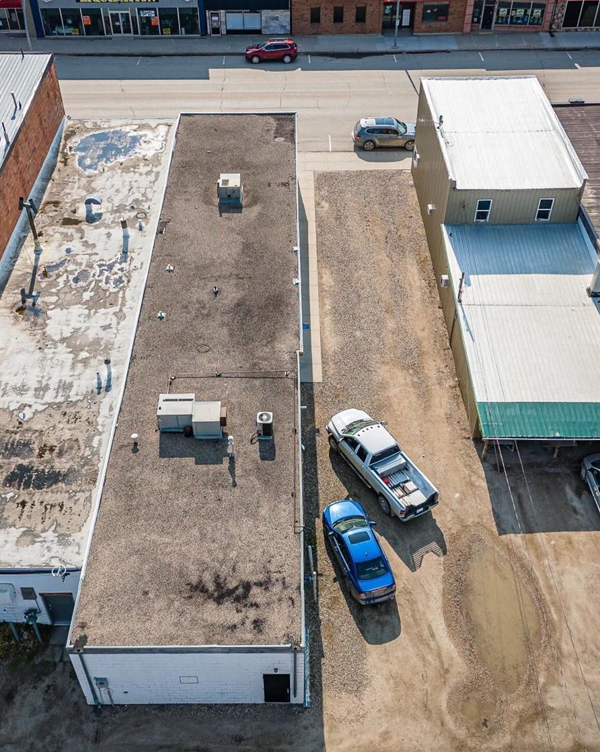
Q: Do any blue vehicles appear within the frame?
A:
Yes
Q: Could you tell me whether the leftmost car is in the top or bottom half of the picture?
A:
top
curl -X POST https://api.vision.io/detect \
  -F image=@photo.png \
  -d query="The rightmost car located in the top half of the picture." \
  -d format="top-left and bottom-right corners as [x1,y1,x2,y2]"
[354,113,416,148]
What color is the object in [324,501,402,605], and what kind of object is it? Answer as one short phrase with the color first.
blue car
